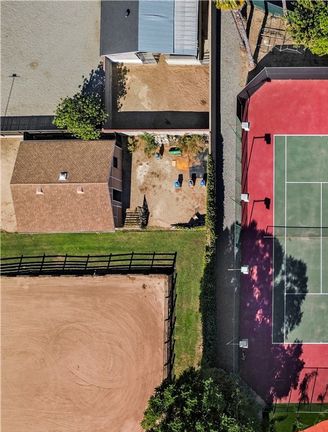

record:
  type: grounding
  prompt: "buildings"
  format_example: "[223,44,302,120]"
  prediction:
[14,141,126,231]
[106,0,206,65]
